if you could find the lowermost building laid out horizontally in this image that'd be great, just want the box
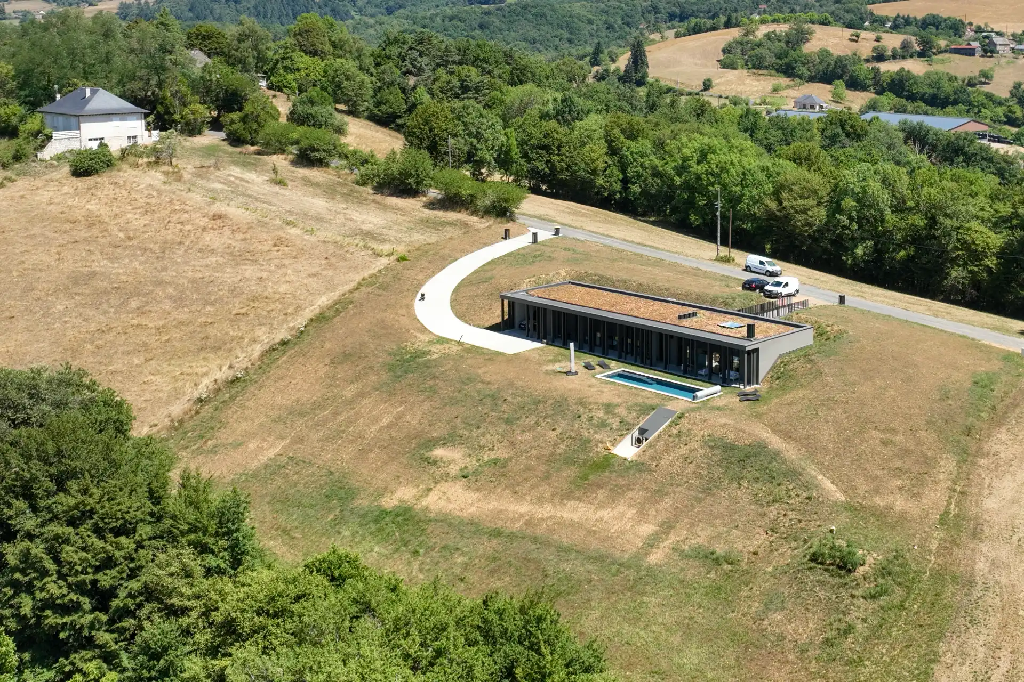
[500,281,813,390]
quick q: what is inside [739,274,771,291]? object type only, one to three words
car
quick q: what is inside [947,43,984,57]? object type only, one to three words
barn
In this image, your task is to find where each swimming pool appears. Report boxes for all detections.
[595,369,723,403]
